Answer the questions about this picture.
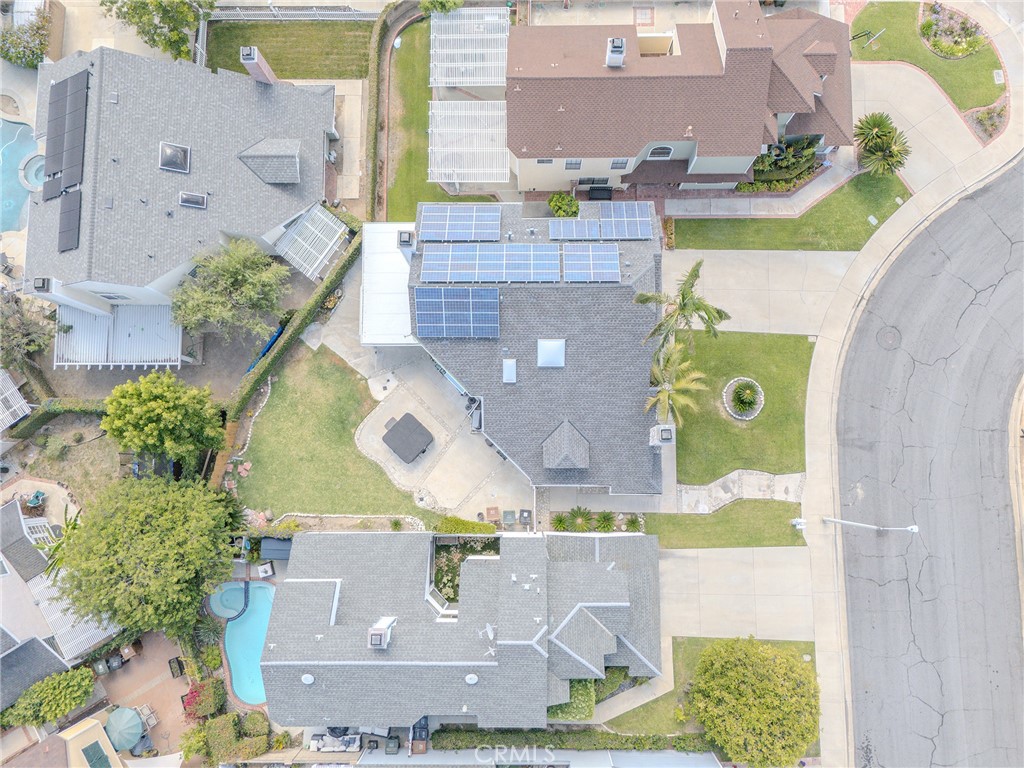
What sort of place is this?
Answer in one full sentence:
The picture captures a residential area.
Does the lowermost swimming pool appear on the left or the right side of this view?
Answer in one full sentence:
The lowermost swimming pool is on the left side of the image.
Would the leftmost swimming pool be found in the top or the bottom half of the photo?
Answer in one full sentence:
You can find the leftmost swimming pool in the top half.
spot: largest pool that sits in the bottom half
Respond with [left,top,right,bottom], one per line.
[209,576,277,708]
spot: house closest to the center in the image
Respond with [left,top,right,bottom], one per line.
[360,202,671,495]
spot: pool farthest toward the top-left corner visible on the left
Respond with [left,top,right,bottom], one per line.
[0,118,45,235]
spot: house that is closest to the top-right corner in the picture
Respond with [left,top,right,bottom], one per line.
[506,0,856,197]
